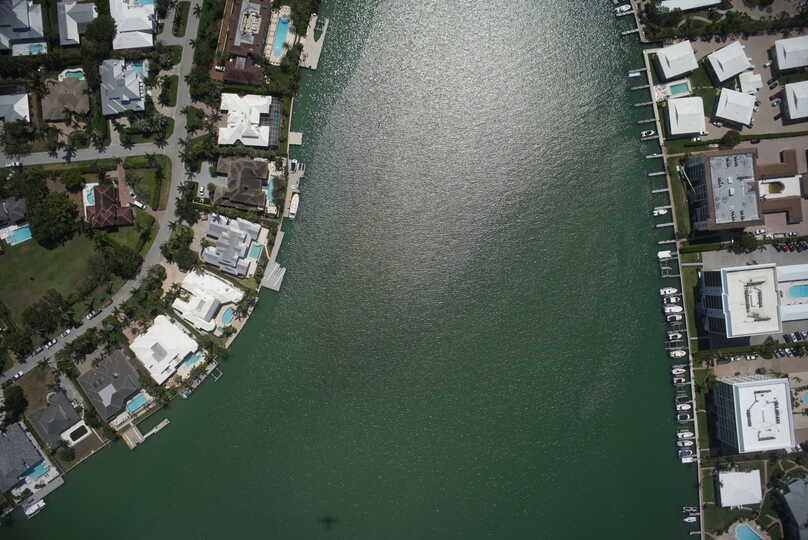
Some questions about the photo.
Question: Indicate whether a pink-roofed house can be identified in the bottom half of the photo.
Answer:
No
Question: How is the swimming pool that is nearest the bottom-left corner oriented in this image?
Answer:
at an angle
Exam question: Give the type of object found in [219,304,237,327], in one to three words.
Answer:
swimming pool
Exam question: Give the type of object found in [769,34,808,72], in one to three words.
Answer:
building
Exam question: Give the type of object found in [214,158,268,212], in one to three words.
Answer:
house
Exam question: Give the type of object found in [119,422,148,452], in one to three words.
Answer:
pier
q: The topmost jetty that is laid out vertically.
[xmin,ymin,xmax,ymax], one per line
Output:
[299,13,329,69]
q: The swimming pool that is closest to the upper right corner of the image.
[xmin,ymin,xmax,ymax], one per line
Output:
[670,81,690,96]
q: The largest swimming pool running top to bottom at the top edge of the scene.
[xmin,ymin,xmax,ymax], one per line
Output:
[271,14,290,57]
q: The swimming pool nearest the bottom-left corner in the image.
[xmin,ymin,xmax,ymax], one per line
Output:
[26,461,50,482]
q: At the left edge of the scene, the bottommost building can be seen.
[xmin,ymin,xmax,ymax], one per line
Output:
[0,422,47,491]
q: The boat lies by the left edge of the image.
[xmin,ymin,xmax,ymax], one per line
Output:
[25,499,46,514]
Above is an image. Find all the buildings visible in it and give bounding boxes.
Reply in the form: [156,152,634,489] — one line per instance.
[78,351,143,419]
[58,1,99,47]
[0,422,47,491]
[714,373,796,454]
[653,40,698,81]
[703,41,753,84]
[32,393,82,448]
[110,0,155,51]
[222,0,272,88]
[775,467,808,540]
[0,94,32,121]
[0,197,28,222]
[710,88,756,126]
[778,81,808,120]
[92,184,135,227]
[200,212,260,276]
[703,263,784,339]
[689,147,767,231]
[214,158,268,212]
[172,272,245,332]
[43,77,90,121]
[769,34,808,72]
[664,97,705,136]
[0,0,45,49]
[130,315,200,384]
[656,0,721,14]
[218,93,271,146]
[101,60,147,115]
[713,466,762,507]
